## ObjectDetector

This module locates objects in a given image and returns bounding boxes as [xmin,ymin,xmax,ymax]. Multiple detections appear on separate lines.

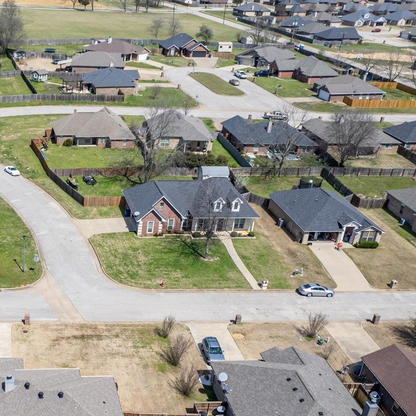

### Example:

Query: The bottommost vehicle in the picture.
[202,335,226,364]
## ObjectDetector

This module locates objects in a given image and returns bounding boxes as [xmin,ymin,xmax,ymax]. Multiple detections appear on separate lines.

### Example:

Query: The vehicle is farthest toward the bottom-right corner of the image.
[297,283,337,298]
